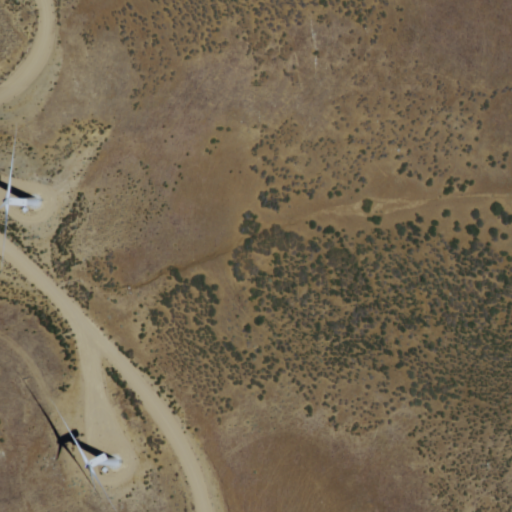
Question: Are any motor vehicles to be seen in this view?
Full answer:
No, the scene contains no motor vehicle.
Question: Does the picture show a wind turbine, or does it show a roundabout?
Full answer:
This aerial view contains a wind turbine.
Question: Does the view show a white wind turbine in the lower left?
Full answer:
Yes, there is a white wind turbine in the lower left.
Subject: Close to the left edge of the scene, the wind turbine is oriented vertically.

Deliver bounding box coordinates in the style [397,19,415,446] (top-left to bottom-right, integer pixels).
[0,134,46,245]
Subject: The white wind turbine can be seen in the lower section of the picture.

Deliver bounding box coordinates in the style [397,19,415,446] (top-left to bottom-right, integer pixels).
[54,408,124,506]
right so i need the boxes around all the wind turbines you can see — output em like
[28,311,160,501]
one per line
[0,134,46,245]
[54,408,124,506]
